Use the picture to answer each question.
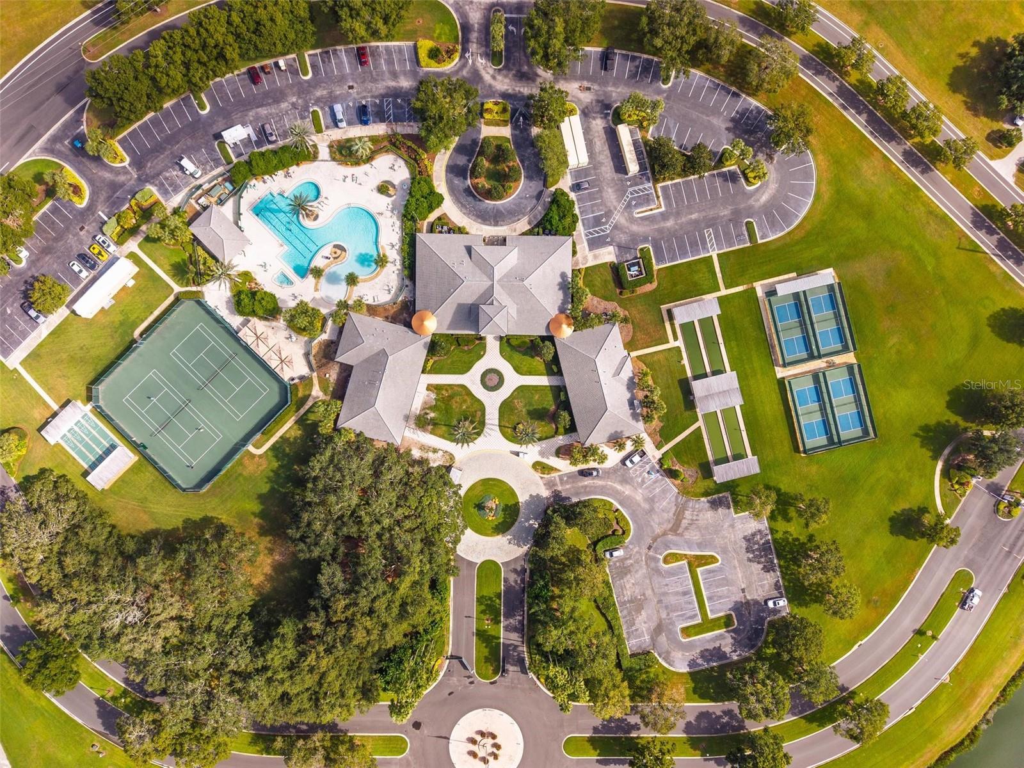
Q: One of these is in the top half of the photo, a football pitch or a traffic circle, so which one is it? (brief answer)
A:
traffic circle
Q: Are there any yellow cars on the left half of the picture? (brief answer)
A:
Yes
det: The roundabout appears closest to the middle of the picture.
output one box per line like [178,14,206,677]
[435,450,546,563]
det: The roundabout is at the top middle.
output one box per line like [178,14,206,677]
[468,99,524,203]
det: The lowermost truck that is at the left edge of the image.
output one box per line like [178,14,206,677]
[21,302,45,323]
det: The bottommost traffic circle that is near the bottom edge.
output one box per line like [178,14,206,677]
[449,708,524,768]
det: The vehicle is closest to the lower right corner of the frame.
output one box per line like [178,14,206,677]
[962,588,979,612]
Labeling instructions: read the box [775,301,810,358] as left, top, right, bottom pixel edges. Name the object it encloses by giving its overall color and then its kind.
blue sports court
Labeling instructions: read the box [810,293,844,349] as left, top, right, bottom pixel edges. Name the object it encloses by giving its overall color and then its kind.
blue sports court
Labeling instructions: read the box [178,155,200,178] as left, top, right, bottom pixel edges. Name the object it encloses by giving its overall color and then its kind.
white vehicle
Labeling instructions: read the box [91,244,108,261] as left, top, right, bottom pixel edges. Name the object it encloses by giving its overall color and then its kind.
yellow car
